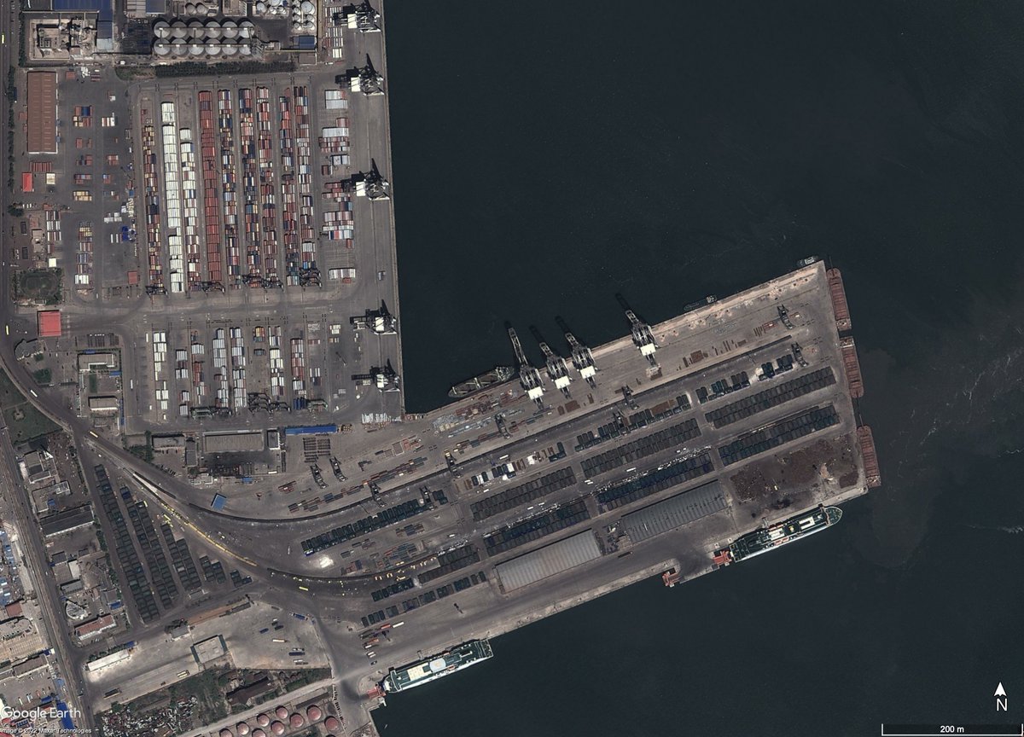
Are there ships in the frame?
Yes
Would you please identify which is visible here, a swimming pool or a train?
train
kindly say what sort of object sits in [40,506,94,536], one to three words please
shed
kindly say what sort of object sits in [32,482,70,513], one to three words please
building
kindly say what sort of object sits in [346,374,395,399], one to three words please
container crane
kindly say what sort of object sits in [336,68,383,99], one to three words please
container crane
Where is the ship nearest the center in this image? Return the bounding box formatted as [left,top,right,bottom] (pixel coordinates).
[449,367,515,397]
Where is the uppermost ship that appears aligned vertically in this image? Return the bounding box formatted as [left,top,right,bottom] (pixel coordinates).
[827,267,851,333]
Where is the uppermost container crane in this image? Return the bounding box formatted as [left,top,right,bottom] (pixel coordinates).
[334,3,382,35]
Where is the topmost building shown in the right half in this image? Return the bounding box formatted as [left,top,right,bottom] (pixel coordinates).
[622,481,728,545]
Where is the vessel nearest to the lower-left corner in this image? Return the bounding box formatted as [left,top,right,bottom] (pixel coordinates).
[382,640,494,690]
